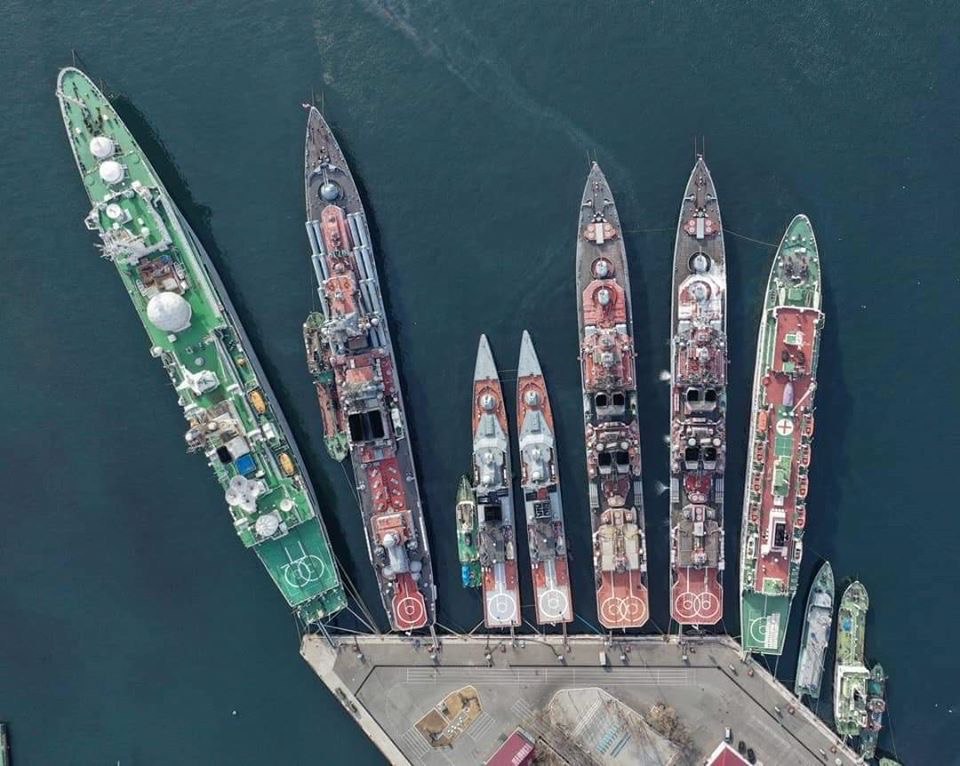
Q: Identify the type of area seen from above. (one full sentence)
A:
This image shows a port.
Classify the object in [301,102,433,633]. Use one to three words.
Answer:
vessel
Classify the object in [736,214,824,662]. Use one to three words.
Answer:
ship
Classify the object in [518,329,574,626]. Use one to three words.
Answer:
ship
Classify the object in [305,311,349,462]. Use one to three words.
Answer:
boat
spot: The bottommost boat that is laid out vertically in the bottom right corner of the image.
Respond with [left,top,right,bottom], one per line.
[859,663,886,760]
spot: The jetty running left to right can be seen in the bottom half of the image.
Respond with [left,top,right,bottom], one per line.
[299,631,867,766]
